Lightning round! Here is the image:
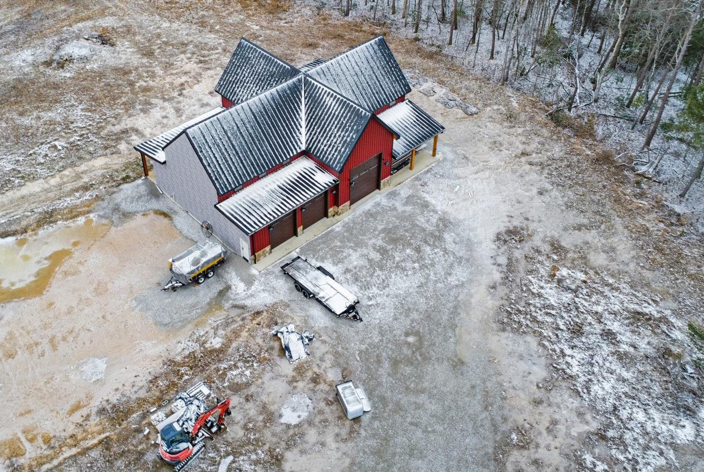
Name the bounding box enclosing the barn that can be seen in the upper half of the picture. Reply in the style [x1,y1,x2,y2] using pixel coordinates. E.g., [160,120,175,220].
[133,36,445,266]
